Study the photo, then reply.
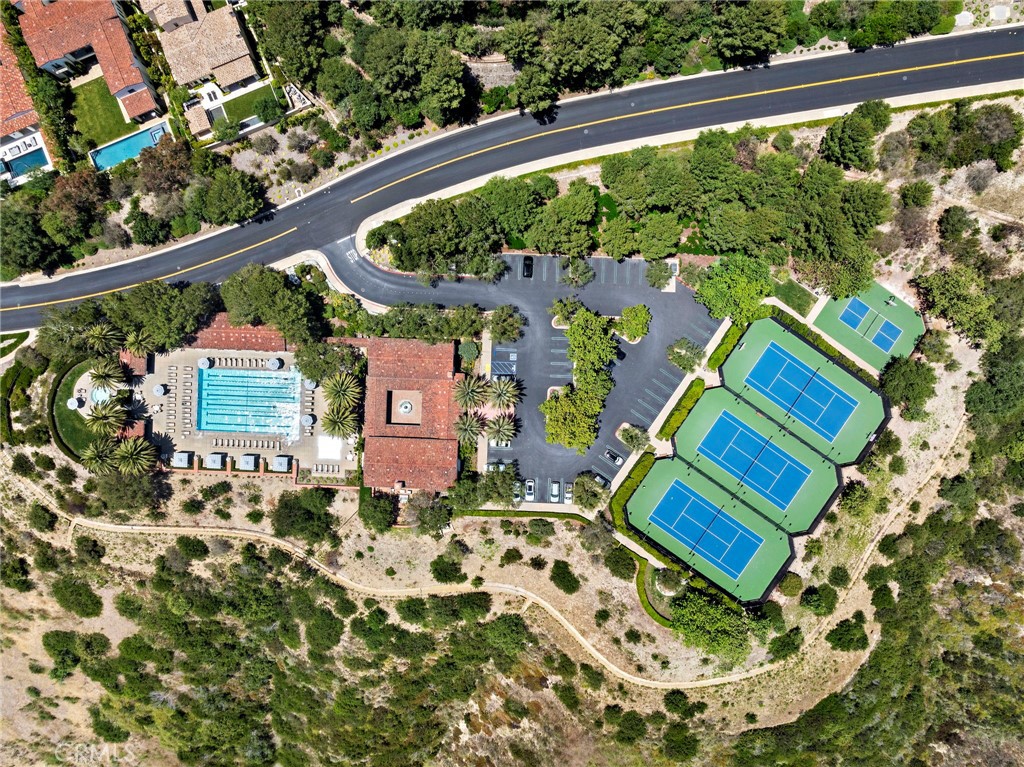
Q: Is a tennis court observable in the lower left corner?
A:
No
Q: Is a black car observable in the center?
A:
Yes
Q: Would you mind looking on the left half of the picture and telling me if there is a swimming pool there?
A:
Yes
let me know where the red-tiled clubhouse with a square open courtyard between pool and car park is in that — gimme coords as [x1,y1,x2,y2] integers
[360,337,465,488]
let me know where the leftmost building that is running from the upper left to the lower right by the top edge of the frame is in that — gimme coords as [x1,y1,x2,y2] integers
[14,0,163,122]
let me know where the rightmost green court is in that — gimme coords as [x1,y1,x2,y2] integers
[814,270,925,377]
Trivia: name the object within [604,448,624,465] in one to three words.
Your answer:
car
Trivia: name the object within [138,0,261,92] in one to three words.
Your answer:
house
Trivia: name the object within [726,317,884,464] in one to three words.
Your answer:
tennis court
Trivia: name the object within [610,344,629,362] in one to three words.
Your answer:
car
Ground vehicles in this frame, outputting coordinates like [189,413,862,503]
[596,473,614,490]
[610,344,629,362]
[525,479,535,500]
[490,439,511,448]
[550,480,560,502]
[484,463,505,472]
[524,256,532,278]
[604,448,624,465]
[513,481,522,502]
[490,373,511,382]
[606,360,616,370]
[564,482,574,504]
